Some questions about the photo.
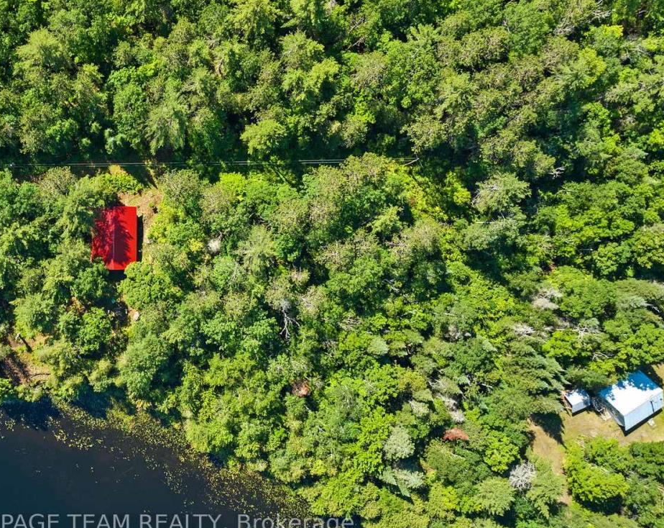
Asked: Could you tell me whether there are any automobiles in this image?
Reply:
No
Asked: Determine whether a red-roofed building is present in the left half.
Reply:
Yes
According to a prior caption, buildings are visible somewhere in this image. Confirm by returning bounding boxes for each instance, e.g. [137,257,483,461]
[562,388,591,415]
[594,373,664,433]
[91,206,137,271]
